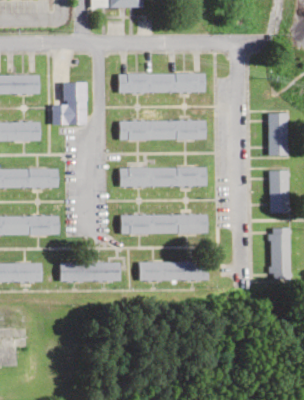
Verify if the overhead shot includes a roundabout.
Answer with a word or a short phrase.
No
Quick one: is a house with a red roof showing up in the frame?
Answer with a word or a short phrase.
No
